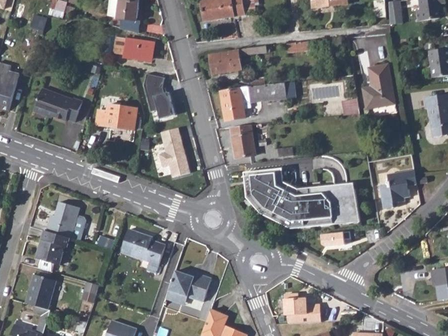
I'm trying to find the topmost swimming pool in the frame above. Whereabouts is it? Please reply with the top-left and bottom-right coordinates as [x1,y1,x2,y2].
[310,85,340,100]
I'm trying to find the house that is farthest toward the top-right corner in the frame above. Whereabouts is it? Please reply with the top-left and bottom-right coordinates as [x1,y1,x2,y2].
[416,0,442,23]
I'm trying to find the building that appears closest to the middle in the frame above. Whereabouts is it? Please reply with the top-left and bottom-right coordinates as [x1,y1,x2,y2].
[229,125,256,161]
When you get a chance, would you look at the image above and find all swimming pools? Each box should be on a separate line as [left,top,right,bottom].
[310,85,340,100]
[157,326,169,336]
